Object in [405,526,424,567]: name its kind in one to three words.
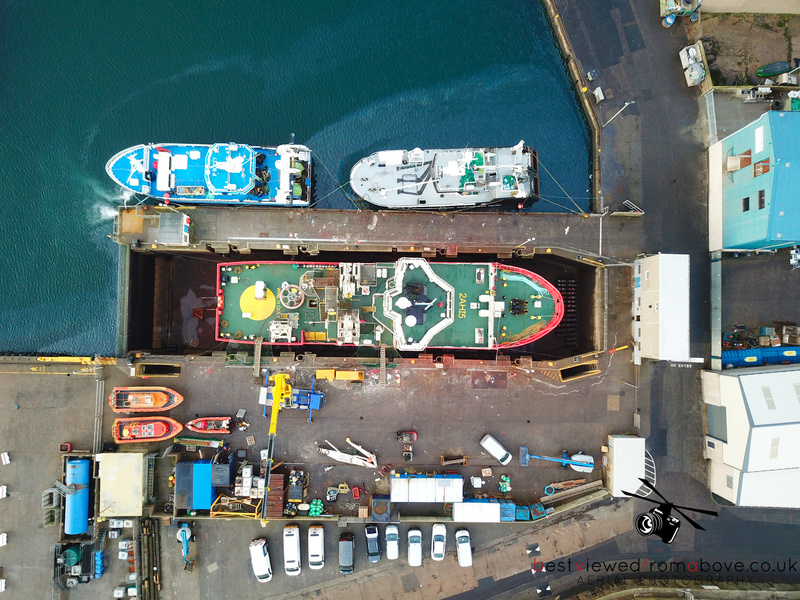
car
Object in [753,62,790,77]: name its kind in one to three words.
boat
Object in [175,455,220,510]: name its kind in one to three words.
building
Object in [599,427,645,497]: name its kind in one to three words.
building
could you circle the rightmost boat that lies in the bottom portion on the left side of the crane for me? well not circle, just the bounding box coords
[184,417,237,434]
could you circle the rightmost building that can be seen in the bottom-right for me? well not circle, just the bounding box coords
[699,368,800,507]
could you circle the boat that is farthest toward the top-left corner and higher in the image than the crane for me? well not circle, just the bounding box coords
[105,131,315,207]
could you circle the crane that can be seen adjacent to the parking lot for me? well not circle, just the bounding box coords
[259,371,327,527]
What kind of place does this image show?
port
